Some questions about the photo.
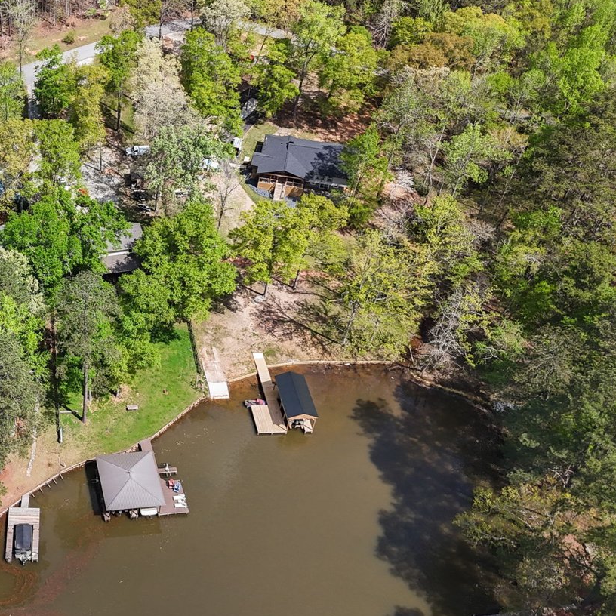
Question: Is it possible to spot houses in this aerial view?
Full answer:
Yes, you can see a house in this photo.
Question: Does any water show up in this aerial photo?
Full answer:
Yes, water shows up in the scene.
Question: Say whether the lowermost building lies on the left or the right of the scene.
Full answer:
The lowermost building is on the left side of the image.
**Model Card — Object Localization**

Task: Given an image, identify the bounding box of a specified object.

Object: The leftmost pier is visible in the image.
[5,506,41,565]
